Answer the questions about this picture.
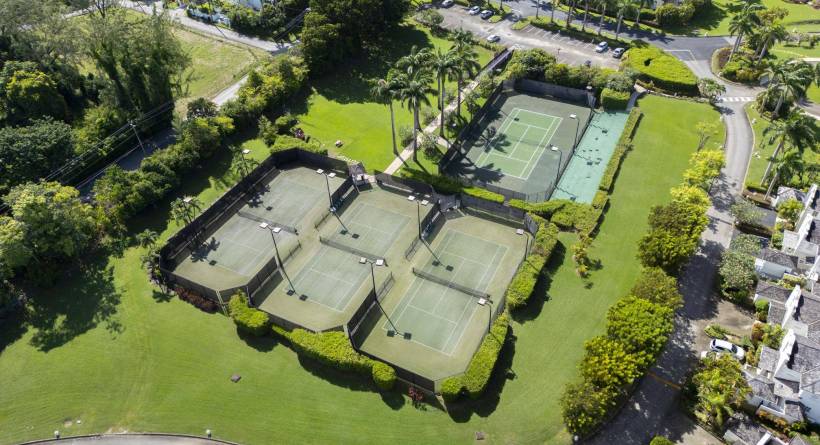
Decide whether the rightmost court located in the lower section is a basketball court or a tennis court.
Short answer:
tennis court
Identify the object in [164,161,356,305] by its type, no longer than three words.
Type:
tennis court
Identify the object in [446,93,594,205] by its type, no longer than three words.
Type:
tennis court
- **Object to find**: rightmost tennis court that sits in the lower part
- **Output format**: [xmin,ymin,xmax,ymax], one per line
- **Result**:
[346,201,533,395]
